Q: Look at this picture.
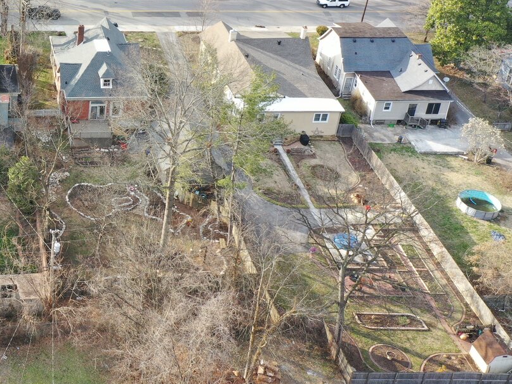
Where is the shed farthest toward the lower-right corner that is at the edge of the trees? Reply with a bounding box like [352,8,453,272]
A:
[465,321,512,374]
